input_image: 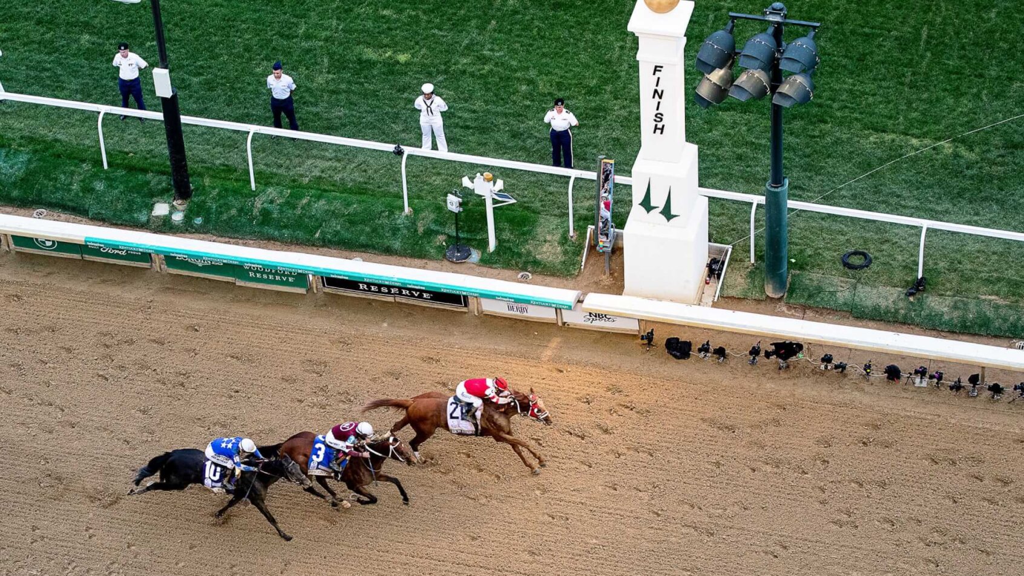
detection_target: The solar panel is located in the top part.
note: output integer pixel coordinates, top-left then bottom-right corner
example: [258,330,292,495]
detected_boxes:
[491,189,513,207]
